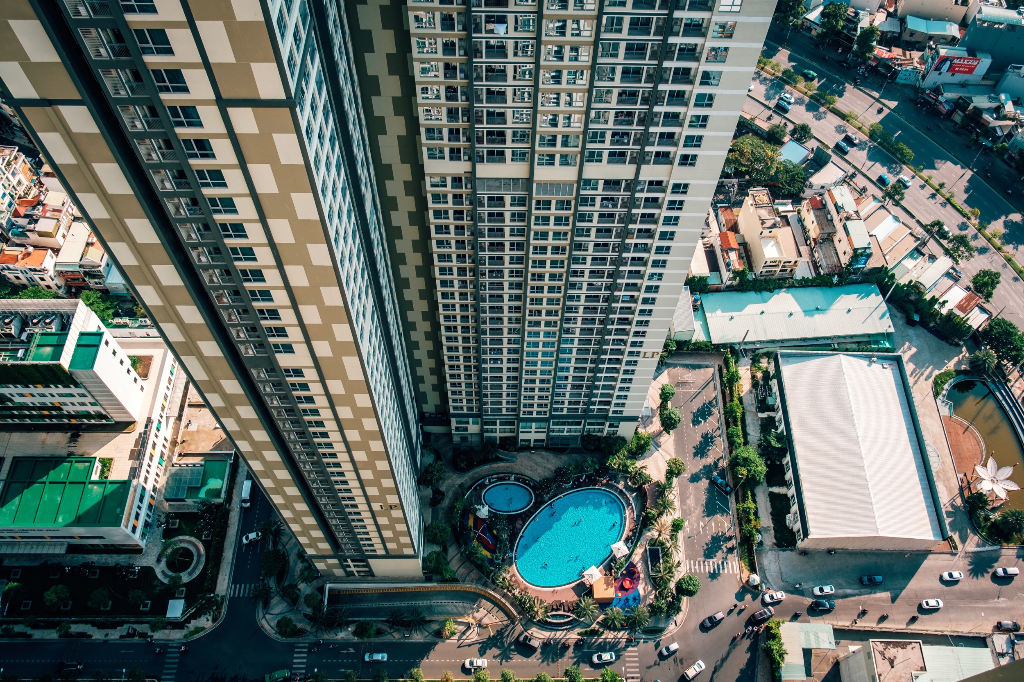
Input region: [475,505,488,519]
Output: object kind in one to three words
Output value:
umbrella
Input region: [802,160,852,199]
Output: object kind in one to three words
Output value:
house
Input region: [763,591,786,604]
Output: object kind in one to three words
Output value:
vehicle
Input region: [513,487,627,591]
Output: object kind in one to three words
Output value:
swimming pool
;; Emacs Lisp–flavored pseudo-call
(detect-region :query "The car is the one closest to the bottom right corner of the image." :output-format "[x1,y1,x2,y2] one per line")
[996,620,1023,632]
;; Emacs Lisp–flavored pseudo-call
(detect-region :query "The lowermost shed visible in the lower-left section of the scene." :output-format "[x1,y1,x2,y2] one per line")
[167,599,189,620]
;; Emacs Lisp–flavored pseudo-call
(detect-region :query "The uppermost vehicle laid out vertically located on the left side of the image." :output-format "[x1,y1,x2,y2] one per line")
[240,479,253,507]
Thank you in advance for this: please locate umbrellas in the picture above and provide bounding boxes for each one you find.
[611,541,629,559]
[748,574,760,586]
[582,565,602,584]
[475,505,488,519]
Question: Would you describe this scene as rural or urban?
urban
